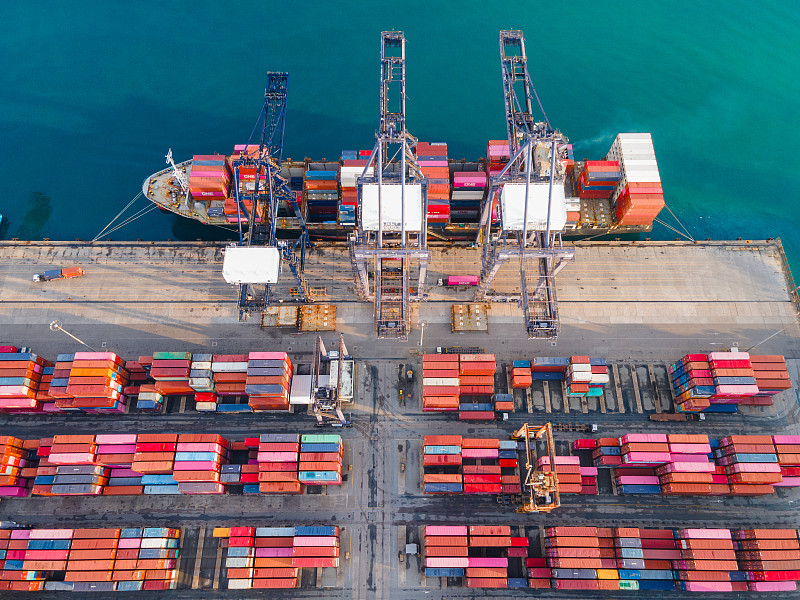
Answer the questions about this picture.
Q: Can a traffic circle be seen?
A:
No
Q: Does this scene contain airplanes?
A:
No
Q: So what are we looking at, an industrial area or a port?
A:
port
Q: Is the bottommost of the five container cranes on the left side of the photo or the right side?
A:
right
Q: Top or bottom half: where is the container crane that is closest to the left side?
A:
top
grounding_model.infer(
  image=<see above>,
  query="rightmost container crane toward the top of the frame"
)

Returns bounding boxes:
[466,29,580,338]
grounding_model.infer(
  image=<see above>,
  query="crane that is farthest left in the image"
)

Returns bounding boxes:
[216,74,321,321]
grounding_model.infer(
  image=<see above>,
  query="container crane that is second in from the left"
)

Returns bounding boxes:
[309,336,351,427]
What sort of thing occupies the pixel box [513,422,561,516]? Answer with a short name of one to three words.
container crane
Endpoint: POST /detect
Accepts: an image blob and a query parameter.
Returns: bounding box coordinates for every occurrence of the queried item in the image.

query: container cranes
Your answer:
[309,336,351,427]
[347,29,438,338]
[466,29,580,338]
[513,422,561,516]
[216,74,321,321]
